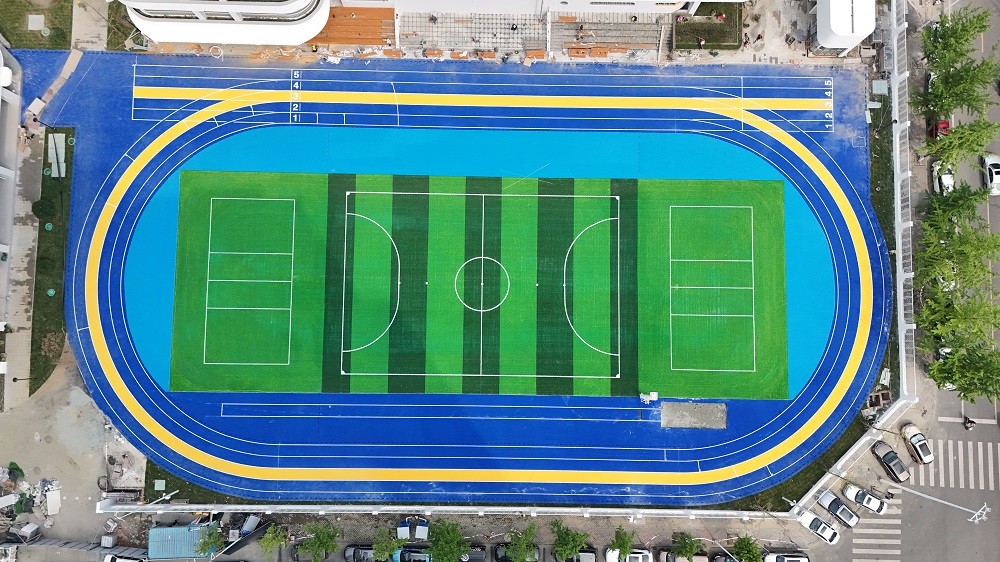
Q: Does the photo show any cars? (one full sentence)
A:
Yes, there is a car in the image.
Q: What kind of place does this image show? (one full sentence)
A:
The picture captures a sports ground.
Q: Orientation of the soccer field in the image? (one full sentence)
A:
The soccer field has been laid out from side to side relative to the frame.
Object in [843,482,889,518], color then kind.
white car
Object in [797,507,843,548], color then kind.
white car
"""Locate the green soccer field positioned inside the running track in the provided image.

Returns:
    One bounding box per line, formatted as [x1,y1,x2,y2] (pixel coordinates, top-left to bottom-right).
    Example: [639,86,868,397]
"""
[170,163,789,400]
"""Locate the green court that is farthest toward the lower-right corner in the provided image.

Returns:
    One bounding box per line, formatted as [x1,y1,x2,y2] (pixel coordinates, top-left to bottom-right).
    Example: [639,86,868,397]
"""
[637,178,789,399]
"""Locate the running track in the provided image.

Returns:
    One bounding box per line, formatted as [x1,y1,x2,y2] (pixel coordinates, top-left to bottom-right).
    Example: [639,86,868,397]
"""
[17,49,891,504]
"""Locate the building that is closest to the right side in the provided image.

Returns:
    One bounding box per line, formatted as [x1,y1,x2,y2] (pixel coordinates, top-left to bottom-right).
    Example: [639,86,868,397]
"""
[810,0,877,60]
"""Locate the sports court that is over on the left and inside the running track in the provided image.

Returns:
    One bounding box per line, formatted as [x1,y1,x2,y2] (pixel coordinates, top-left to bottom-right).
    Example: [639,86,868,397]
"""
[169,171,329,394]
